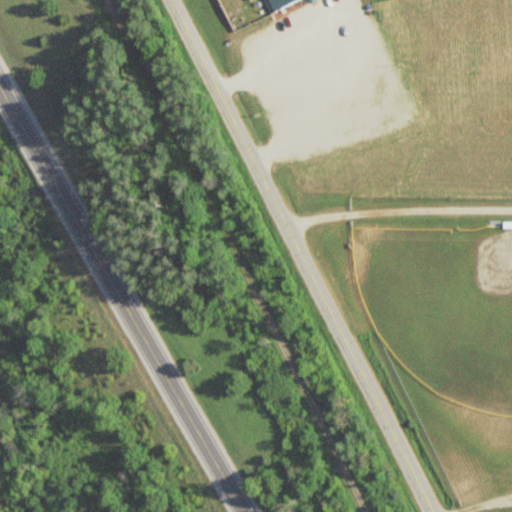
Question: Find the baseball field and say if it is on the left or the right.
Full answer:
The baseball field sits on the right side.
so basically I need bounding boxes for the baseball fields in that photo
[353,230,512,412]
